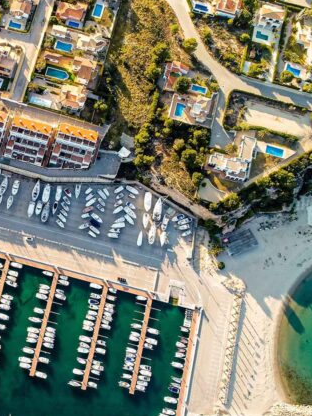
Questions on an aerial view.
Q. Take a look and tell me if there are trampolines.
No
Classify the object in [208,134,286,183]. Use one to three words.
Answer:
house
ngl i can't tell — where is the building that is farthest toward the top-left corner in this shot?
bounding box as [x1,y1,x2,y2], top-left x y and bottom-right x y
[1,0,33,34]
